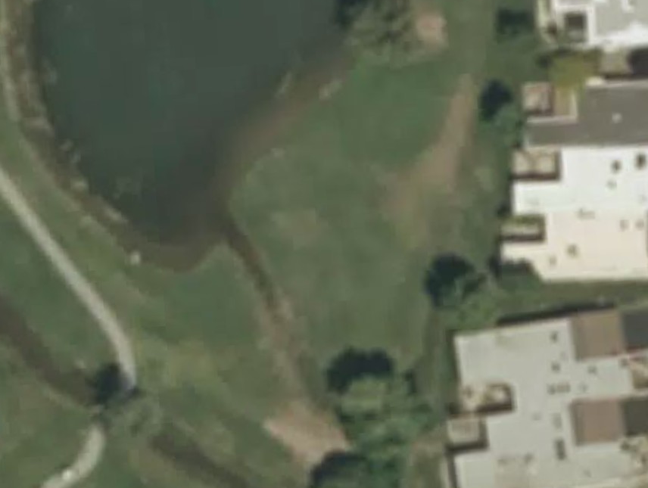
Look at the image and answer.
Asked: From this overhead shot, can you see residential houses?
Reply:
Yes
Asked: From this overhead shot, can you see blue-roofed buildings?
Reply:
No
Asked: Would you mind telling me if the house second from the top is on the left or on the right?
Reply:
right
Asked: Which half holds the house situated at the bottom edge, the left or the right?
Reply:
right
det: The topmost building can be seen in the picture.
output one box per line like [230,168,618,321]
[537,0,648,77]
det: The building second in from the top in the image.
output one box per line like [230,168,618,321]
[523,78,648,145]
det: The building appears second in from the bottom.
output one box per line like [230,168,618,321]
[501,210,648,280]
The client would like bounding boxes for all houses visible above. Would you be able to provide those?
[512,147,648,214]
[501,210,648,280]
[537,0,648,77]
[441,306,648,488]
[523,78,648,145]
